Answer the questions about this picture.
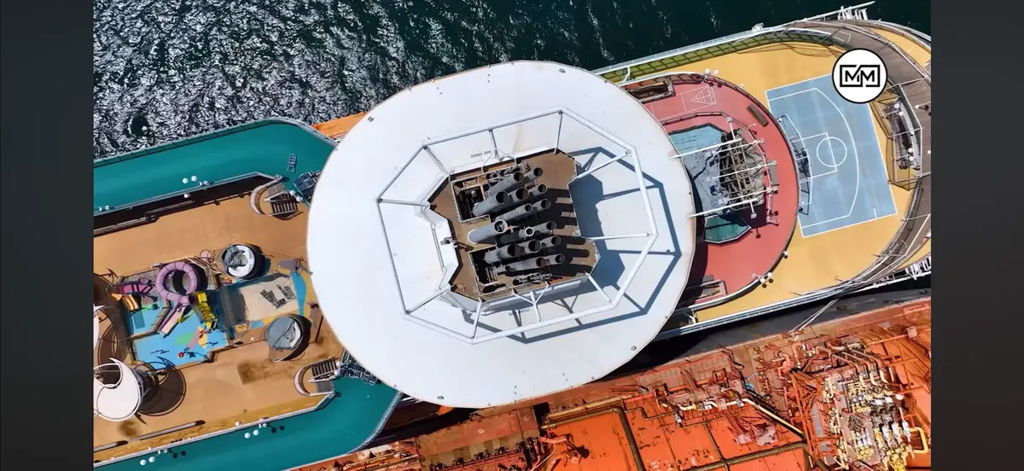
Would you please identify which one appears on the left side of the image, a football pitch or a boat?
boat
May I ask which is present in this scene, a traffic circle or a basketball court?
basketball court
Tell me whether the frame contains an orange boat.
Yes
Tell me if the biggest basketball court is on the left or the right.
right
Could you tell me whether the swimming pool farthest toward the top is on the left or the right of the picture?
right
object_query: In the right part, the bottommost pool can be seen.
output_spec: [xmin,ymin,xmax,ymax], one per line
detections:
[702,212,757,245]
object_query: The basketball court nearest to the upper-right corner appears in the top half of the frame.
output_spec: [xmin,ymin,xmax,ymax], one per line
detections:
[766,66,896,236]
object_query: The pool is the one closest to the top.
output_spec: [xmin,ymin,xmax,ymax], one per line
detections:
[666,121,735,221]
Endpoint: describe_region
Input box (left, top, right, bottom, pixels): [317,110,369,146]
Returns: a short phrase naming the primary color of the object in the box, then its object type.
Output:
orange boat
